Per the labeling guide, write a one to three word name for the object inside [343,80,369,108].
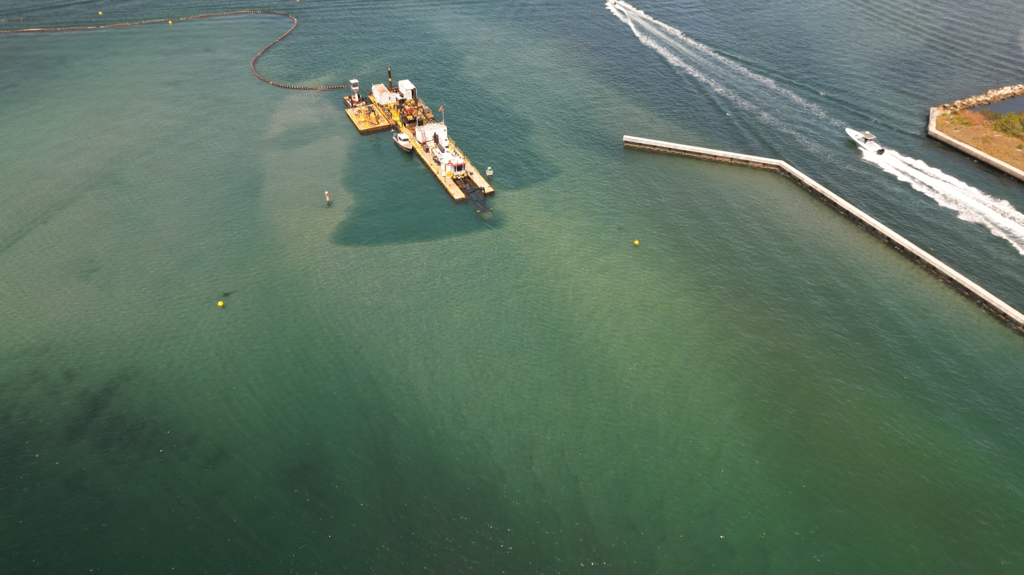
boat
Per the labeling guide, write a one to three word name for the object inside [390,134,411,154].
boat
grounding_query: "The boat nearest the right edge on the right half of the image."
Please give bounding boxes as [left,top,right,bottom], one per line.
[847,121,890,154]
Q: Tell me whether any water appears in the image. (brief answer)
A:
Yes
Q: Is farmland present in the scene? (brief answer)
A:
No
